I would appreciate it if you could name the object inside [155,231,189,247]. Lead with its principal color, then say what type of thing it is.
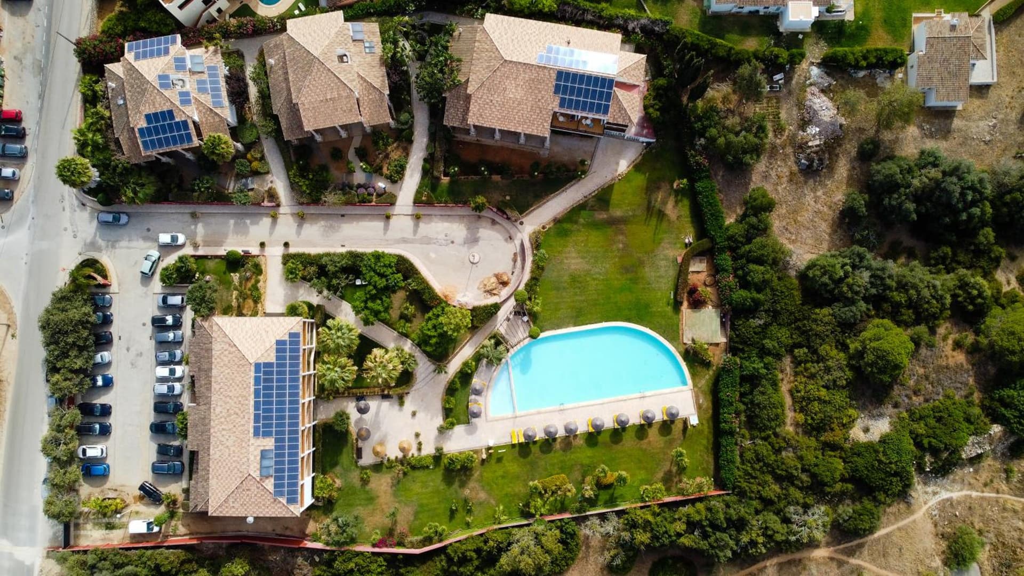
white car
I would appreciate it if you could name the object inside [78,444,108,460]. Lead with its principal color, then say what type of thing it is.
white car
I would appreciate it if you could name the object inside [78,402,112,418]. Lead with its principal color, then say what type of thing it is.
black car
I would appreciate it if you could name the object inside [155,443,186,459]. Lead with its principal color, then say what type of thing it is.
black car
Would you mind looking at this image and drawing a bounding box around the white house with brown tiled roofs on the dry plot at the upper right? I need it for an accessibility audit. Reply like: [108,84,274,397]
[900,11,1003,108]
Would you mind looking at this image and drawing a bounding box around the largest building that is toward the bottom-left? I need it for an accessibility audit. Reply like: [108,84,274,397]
[186,316,327,524]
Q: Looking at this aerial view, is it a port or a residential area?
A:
residential area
